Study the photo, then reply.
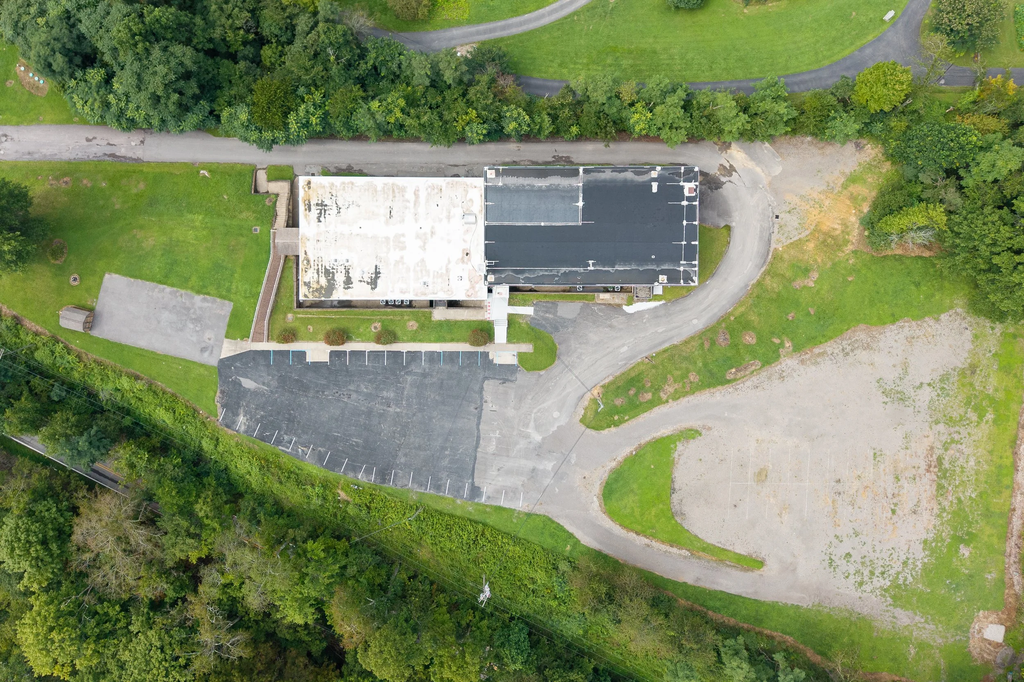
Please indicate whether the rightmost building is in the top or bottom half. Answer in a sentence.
The rightmost building sits in the top half of the picture.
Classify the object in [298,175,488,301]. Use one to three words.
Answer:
building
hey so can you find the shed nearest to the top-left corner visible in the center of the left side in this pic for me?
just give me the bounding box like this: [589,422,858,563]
[57,308,97,333]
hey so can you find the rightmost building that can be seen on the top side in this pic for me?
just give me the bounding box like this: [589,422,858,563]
[483,165,700,287]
